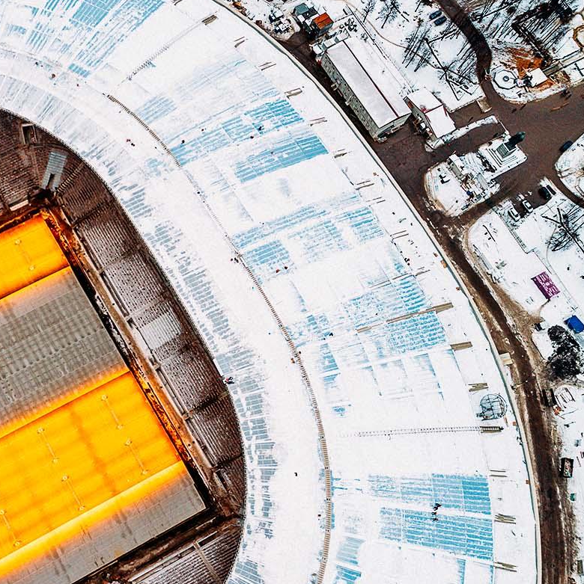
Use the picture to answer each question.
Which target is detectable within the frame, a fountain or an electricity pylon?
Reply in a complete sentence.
The image shows a fountain.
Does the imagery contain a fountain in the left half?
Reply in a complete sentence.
No, no fountain can be made out in the left half.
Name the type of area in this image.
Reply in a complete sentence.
The picture captures a sports ground.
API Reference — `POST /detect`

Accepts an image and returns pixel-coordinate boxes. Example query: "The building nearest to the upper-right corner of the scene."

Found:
[522,68,547,92]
